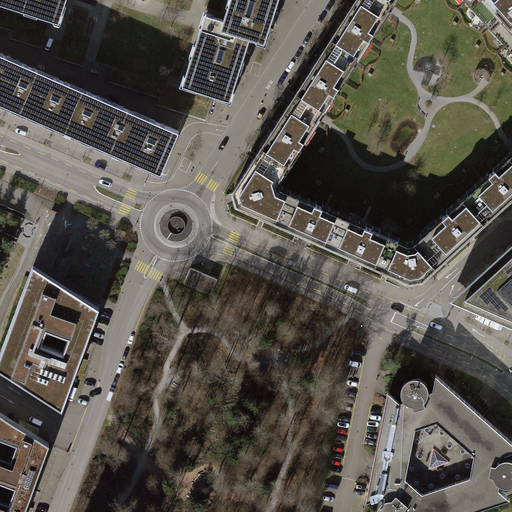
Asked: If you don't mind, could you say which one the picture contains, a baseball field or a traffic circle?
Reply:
traffic circle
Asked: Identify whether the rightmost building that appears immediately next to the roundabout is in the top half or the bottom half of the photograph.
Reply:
top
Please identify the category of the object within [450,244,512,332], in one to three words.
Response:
building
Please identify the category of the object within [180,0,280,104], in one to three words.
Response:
building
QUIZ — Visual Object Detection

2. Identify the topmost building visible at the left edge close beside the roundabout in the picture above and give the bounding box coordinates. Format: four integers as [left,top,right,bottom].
[0,50,179,178]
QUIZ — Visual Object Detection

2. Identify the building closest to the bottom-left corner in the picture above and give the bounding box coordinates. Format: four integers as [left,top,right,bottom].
[0,412,50,512]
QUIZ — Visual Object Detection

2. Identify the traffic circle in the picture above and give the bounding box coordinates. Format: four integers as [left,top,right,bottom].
[140,189,212,260]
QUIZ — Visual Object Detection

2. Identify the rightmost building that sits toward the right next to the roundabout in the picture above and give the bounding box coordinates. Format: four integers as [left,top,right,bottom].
[232,0,512,286]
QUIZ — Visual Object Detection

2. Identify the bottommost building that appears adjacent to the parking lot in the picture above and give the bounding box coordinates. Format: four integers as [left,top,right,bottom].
[363,371,512,512]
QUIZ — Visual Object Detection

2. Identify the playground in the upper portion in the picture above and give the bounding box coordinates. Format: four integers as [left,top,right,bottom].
[413,56,442,86]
